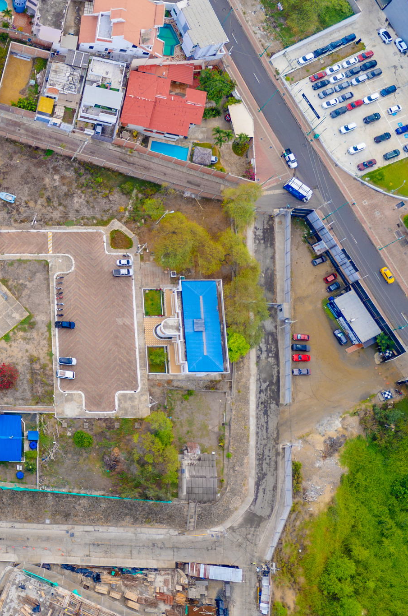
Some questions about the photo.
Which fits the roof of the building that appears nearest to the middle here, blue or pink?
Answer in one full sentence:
The roof of the building that appears nearest to the middle is blue.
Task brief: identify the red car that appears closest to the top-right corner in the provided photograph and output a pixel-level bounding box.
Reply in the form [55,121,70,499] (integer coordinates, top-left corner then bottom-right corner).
[358,47,378,61]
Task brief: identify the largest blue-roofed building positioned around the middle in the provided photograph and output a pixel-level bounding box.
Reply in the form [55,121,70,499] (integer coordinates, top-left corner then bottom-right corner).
[152,279,231,376]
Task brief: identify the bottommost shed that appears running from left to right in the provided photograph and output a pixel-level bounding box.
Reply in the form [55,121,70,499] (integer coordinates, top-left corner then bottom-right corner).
[187,562,242,582]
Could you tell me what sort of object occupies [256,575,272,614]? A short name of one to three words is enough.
shed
